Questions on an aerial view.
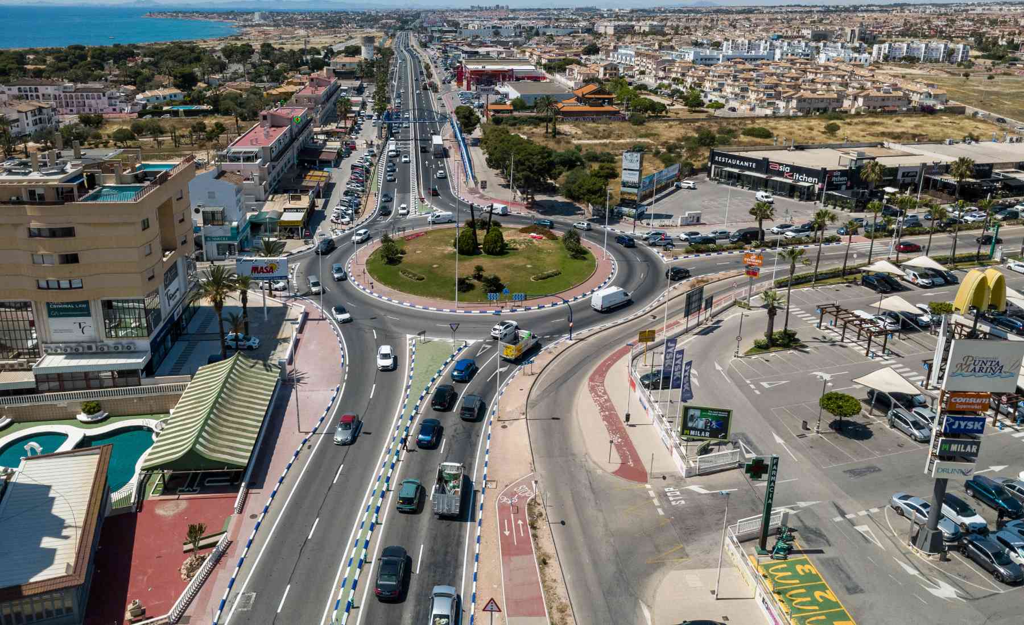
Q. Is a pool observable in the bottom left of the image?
Yes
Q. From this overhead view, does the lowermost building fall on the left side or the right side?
left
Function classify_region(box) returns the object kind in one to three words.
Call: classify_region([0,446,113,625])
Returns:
building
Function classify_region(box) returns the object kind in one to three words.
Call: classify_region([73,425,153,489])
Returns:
swimming pool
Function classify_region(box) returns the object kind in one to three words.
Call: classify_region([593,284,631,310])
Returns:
vehicle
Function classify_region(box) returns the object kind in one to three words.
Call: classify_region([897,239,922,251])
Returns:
vehicle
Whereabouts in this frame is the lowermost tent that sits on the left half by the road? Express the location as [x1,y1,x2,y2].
[140,353,282,502]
